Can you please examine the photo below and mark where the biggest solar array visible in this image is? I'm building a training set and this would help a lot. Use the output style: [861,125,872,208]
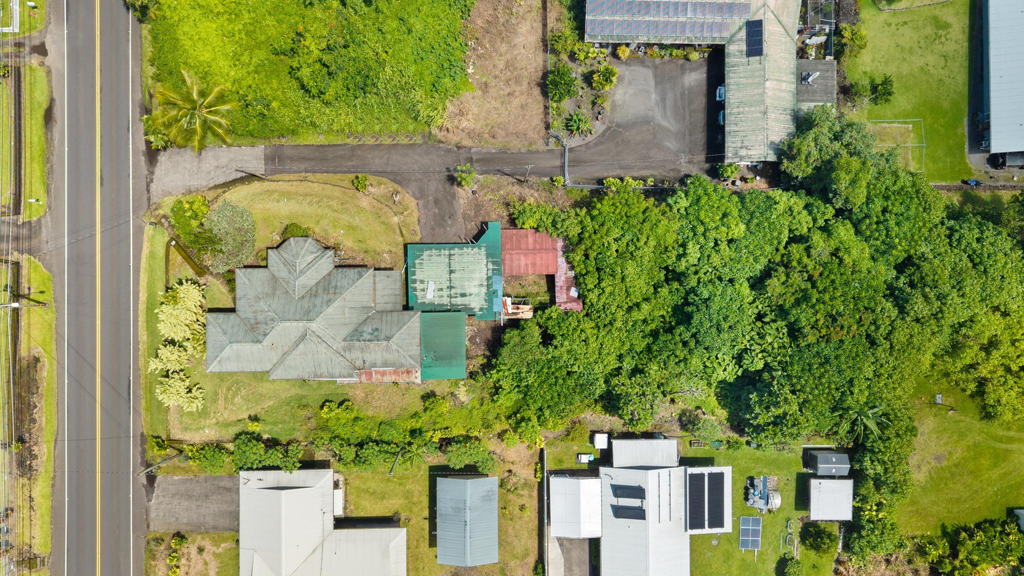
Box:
[740,516,762,561]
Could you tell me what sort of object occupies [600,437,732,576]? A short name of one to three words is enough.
house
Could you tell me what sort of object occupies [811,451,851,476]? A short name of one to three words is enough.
shed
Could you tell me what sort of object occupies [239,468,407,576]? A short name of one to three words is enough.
house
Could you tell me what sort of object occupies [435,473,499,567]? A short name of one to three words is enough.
barn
